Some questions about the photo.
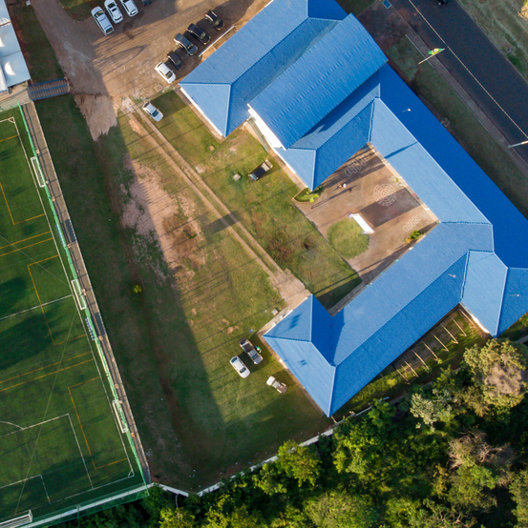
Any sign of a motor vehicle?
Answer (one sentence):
Yes, the picture does show a motor vehicle.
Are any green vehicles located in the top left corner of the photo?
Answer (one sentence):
No, I can find no green vehicle in the top left corner of the photo.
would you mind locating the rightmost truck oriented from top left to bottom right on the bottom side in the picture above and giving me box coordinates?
[263,374,289,396]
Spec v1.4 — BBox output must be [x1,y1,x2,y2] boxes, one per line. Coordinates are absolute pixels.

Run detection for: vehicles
[237,334,263,366]
[263,374,289,396]
[120,0,139,18]
[246,155,276,183]
[227,352,252,380]
[204,9,224,32]
[93,7,113,35]
[141,0,154,9]
[153,60,177,85]
[104,0,123,25]
[187,22,210,47]
[173,32,196,58]
[164,45,185,68]
[141,98,164,124]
